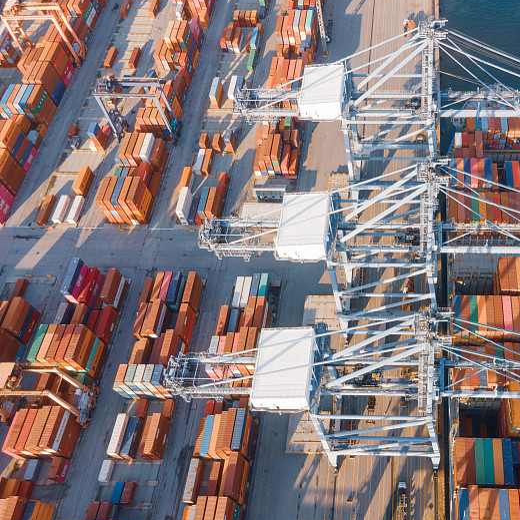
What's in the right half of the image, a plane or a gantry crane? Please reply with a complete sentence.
Looking in the right half of the image, you will find a gantry crane.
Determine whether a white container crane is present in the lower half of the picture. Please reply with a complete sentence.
Yes, looking in the lower half of the picture, one can make out a white container crane.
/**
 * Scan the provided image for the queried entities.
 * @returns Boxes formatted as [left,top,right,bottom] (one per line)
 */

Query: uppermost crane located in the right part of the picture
[230,10,520,216]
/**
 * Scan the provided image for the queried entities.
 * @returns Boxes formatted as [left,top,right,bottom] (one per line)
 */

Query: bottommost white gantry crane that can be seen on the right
[161,298,520,483]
